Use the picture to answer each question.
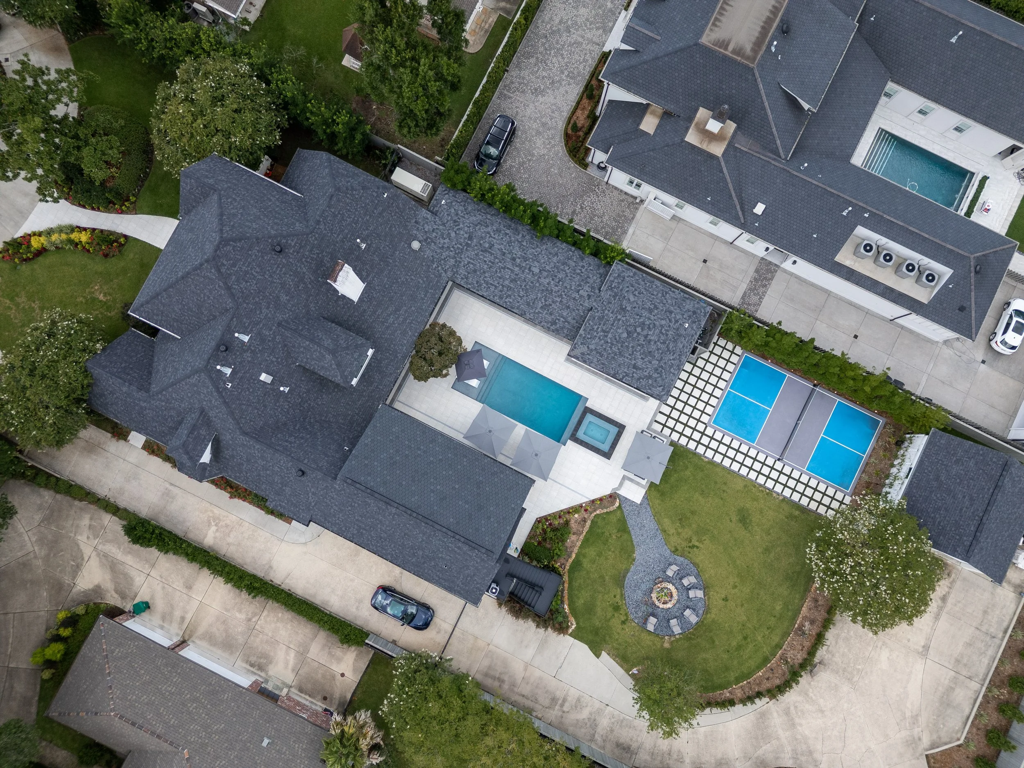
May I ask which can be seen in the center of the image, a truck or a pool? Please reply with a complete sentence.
Visible in the center of the image is a pool.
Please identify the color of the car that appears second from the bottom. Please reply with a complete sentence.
The car that appears second from the bottom looks white in the image.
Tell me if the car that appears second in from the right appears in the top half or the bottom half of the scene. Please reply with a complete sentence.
The top half of the photo is where the car that appears second in from the right is.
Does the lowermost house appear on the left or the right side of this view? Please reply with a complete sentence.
The lowermost house appears in the left half of the scene.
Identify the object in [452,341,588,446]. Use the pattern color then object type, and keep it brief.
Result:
blue swimming pool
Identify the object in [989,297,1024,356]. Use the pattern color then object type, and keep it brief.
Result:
white car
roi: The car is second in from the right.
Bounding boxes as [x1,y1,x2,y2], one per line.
[475,110,517,173]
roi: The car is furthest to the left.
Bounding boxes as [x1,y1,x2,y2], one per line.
[372,587,433,630]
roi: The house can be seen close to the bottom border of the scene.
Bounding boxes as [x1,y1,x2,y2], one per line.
[44,612,334,768]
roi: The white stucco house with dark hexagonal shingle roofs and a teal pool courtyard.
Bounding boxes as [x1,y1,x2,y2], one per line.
[587,0,1024,343]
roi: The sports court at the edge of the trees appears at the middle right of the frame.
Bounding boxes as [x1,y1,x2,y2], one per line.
[707,349,886,497]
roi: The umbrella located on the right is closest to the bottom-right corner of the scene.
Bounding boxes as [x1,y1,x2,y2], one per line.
[622,431,674,484]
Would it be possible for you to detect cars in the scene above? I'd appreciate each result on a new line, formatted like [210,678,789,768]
[475,110,517,173]
[372,587,433,630]
[989,297,1024,356]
